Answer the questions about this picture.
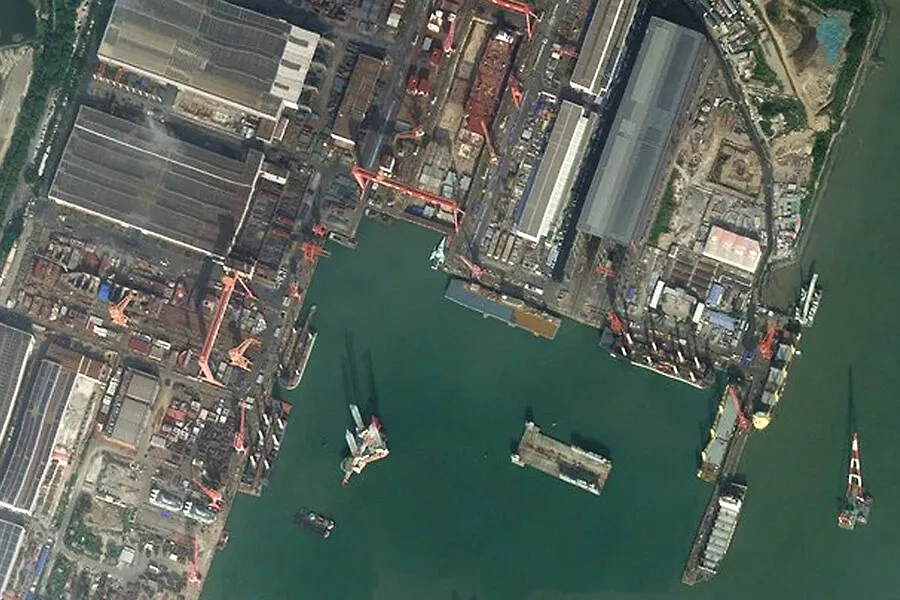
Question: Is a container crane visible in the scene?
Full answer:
Yes, looking at the shot, I can spot a container crane.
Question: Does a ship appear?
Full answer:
Yes, a ship can be made out from above.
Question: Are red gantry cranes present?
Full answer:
Yes, this view includes a red gantry crane.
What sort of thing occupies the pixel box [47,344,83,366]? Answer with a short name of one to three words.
shed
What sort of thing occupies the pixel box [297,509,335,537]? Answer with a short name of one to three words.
ship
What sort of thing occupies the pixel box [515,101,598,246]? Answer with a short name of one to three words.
building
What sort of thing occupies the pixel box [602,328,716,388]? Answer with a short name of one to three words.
ship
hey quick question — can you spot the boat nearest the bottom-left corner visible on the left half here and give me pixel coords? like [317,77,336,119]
[149,489,182,510]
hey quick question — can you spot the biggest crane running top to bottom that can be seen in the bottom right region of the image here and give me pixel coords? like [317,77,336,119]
[838,429,871,531]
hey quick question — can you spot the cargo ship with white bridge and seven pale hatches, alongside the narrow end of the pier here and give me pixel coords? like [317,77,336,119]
[693,484,747,585]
